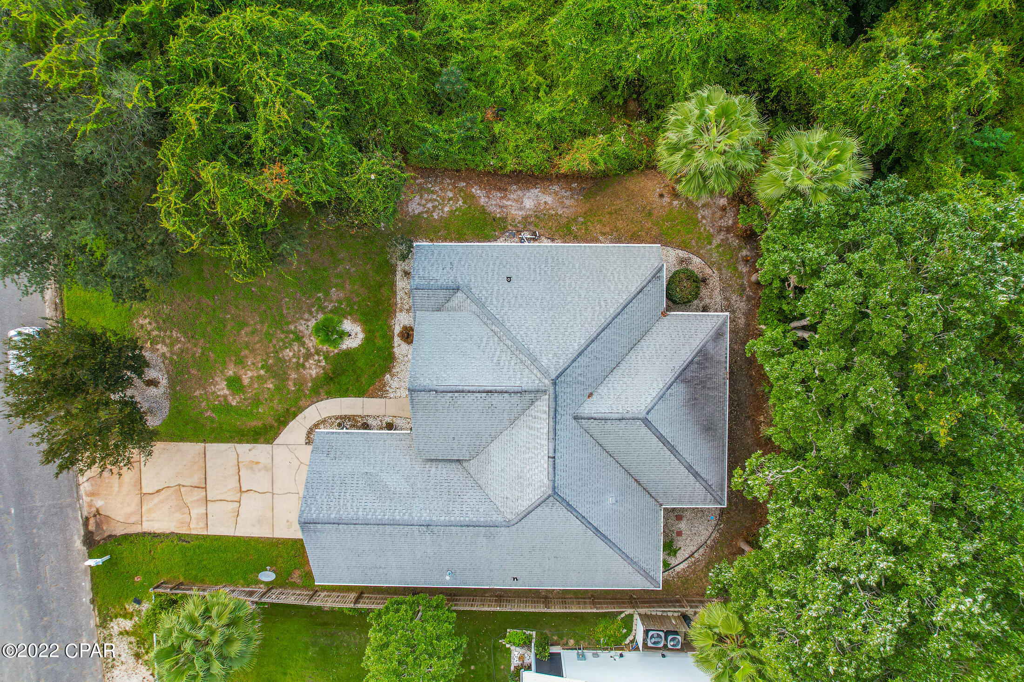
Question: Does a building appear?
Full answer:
Yes, the image includes a building.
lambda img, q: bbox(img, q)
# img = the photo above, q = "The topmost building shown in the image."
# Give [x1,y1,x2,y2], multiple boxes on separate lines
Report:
[298,242,731,589]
